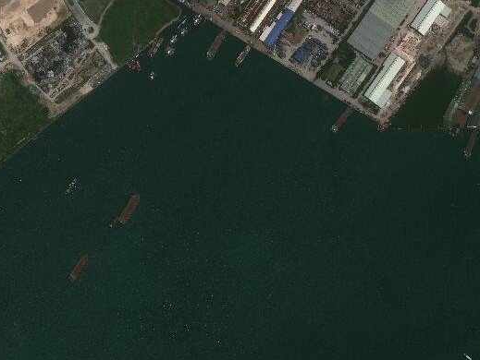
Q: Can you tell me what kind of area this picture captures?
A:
port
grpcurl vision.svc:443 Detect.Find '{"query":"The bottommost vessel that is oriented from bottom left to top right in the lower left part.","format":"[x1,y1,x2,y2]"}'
[69,254,89,280]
